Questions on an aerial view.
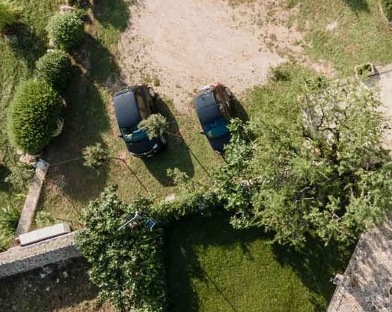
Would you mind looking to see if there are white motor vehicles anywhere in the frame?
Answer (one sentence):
No, no white motor vehicle is visible in the scene.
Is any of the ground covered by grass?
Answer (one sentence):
Yes, there's grass in this view.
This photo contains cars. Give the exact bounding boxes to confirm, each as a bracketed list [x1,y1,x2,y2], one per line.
[118,87,164,162]
[195,86,236,157]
